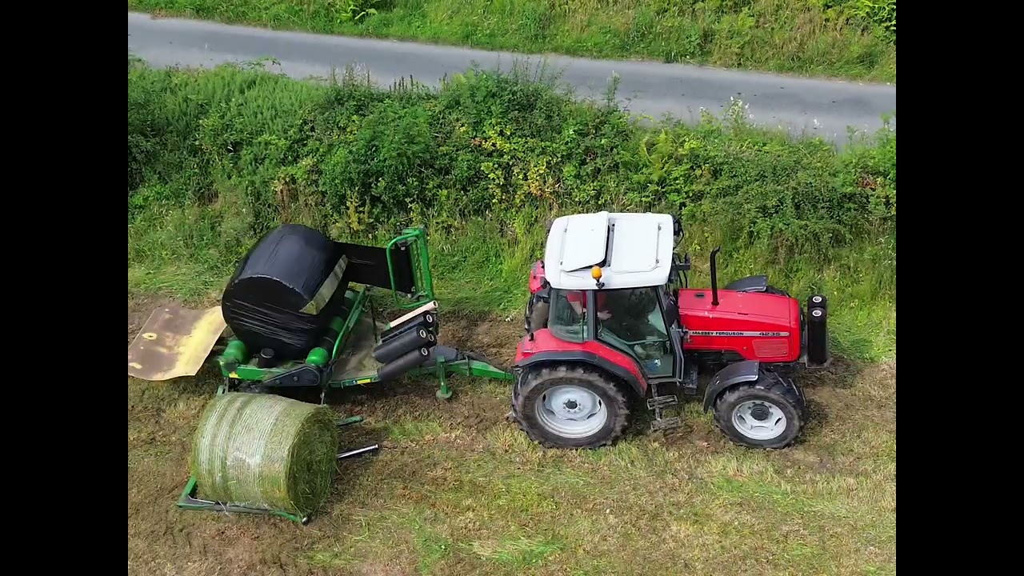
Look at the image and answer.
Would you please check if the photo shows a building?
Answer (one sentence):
No, there is no building in the image.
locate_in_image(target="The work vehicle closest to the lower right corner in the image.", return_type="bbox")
[480,209,834,449]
